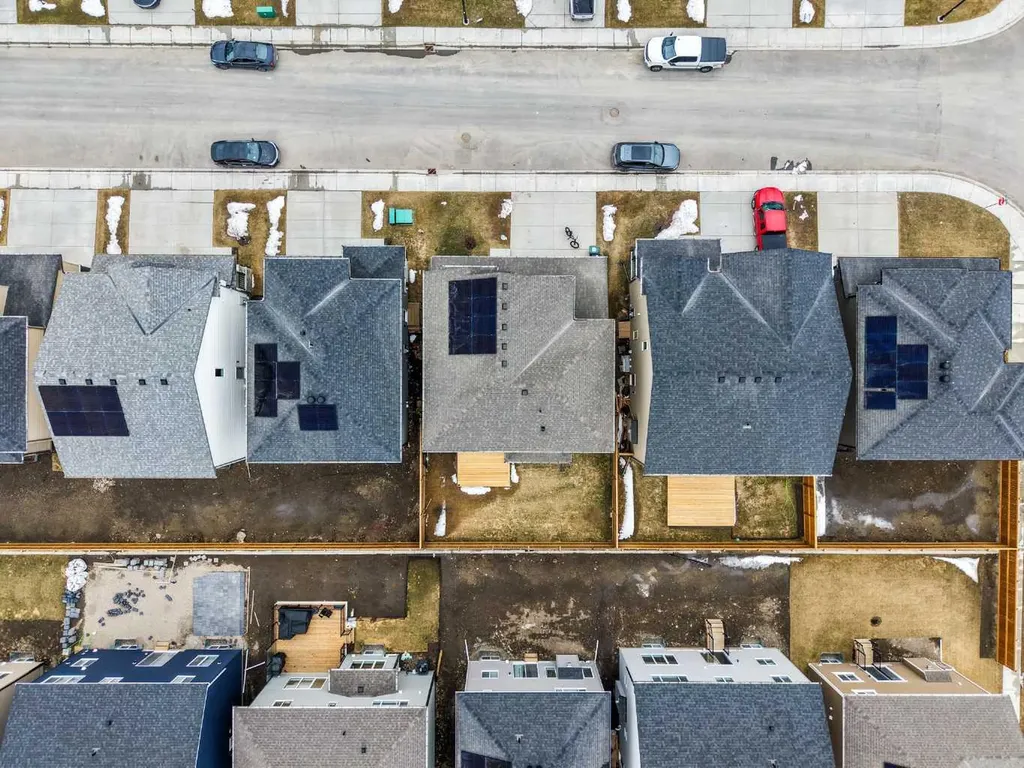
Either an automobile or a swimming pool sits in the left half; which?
automobile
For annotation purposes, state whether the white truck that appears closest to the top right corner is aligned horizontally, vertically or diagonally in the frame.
horizontally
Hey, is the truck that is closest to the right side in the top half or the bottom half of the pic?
top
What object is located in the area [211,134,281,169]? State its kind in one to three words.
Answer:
car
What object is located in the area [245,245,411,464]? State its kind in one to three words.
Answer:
house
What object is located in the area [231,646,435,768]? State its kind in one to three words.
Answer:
house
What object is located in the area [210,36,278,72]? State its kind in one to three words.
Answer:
car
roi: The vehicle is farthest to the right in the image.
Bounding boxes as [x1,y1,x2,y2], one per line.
[752,185,791,250]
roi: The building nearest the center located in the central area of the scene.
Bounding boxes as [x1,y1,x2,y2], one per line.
[422,255,616,467]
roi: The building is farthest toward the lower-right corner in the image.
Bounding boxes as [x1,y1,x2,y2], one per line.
[808,653,1024,768]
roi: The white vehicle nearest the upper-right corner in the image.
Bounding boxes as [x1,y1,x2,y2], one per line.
[642,32,741,73]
